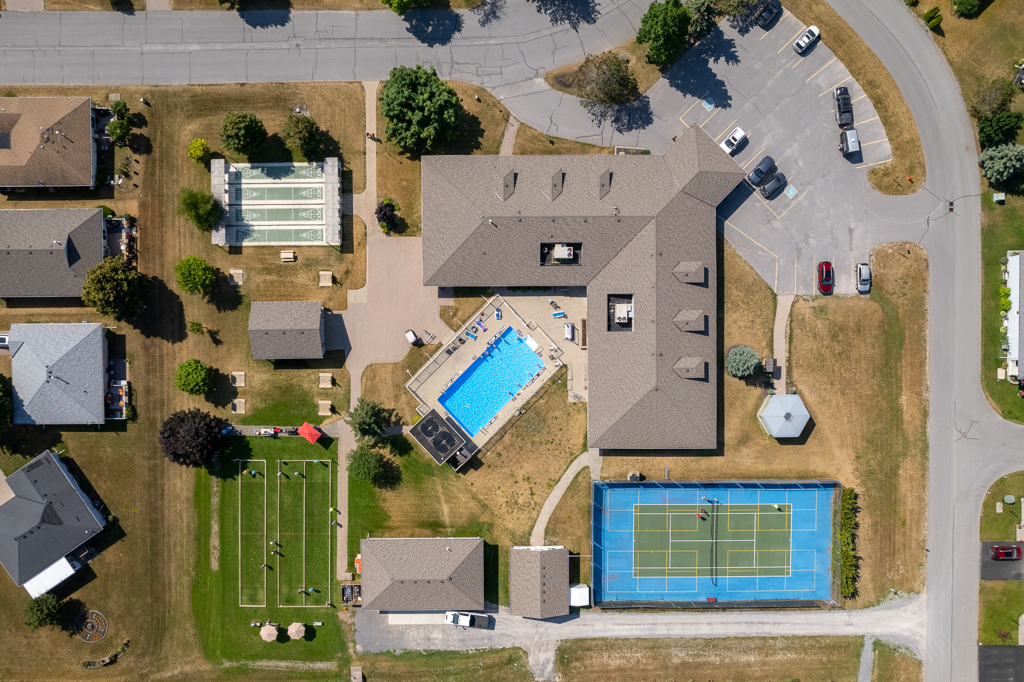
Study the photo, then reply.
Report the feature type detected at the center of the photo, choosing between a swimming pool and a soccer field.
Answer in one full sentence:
Visible at the center of the photo is a swimming pool.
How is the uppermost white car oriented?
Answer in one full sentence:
I'd say the uppermost white car is aligned diagonally in the picture.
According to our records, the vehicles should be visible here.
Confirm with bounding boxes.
[754,0,783,29]
[816,263,834,294]
[832,87,853,127]
[719,127,746,154]
[405,328,419,346]
[0,334,10,346]
[792,24,820,55]
[855,263,872,294]
[988,545,1021,561]
[444,611,489,629]
[760,172,787,200]
[747,155,776,186]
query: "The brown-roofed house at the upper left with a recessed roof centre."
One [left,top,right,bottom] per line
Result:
[0,96,101,187]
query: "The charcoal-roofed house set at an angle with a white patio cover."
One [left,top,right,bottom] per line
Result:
[0,449,107,595]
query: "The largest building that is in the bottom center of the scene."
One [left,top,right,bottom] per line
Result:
[360,534,485,611]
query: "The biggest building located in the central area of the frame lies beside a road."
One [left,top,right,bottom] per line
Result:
[421,121,747,450]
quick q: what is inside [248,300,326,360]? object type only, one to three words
building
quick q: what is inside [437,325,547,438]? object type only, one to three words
swimming pool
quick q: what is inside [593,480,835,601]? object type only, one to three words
sports court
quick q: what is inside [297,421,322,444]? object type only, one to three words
umbrella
